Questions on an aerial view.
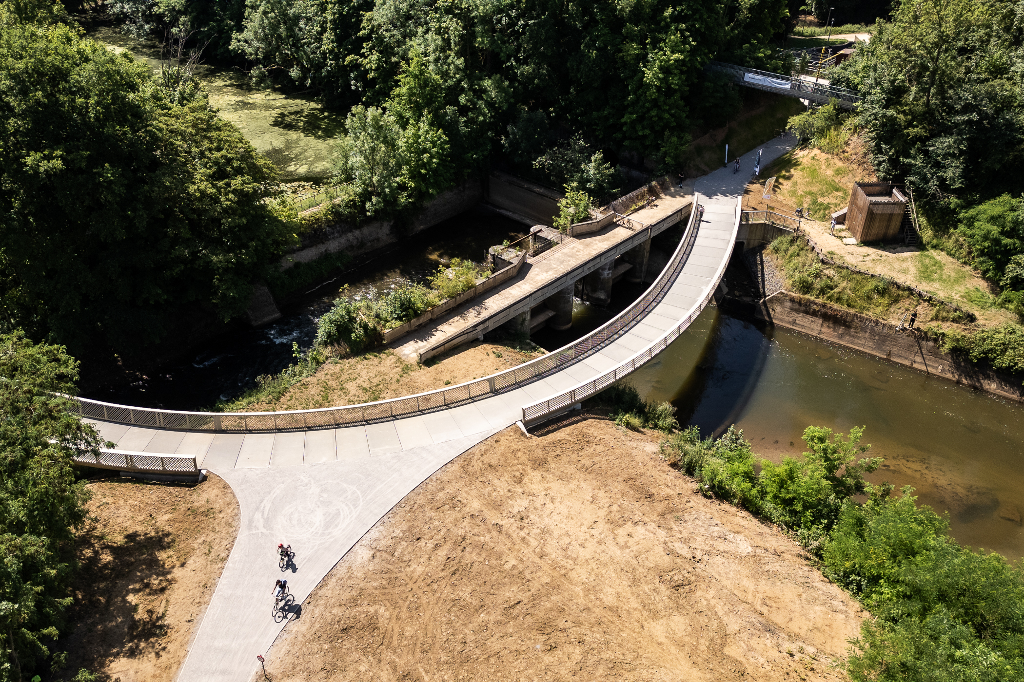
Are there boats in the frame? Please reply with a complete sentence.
No, there appears to be no boat in this shot.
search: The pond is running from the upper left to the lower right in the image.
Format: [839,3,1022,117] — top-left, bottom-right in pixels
[92,26,366,201]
